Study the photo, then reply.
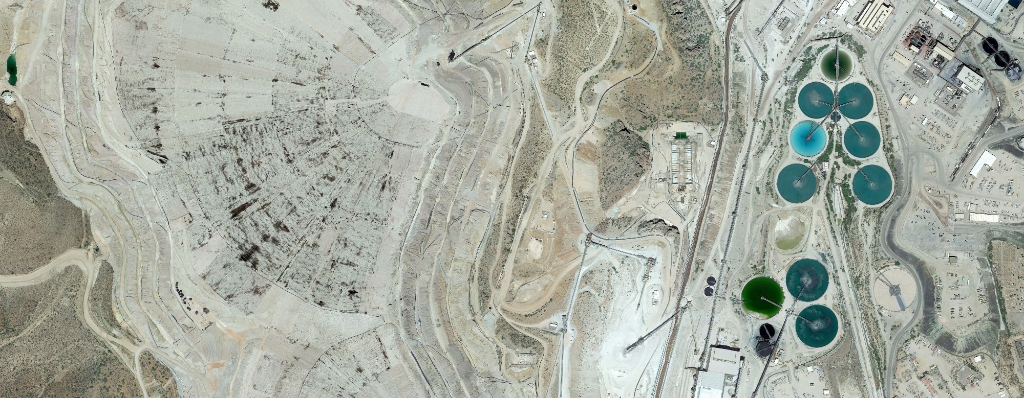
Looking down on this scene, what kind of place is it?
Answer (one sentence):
The picture captures an industrial area.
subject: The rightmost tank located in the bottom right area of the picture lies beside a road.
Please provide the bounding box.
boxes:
[873,268,917,312]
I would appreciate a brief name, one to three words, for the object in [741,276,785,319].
storage tank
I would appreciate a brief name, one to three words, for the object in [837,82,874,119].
storage tank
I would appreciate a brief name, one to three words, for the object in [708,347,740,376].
building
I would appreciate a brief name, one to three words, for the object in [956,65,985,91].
building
